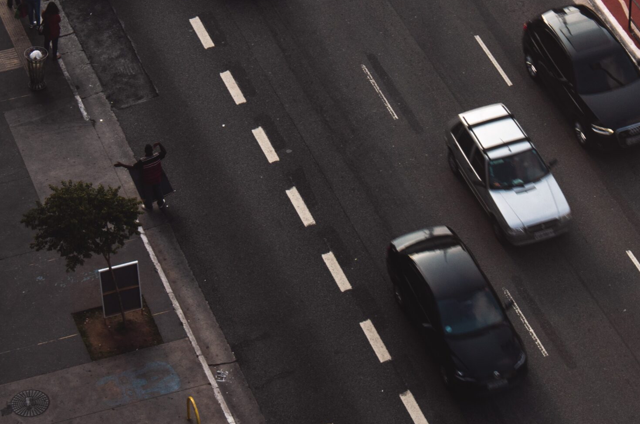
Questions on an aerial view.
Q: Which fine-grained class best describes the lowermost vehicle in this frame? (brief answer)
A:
car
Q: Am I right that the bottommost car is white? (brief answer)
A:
No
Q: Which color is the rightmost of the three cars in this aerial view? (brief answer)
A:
black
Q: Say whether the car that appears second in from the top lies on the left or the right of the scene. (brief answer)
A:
right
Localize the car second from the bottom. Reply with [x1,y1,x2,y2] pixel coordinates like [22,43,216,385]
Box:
[446,102,573,245]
